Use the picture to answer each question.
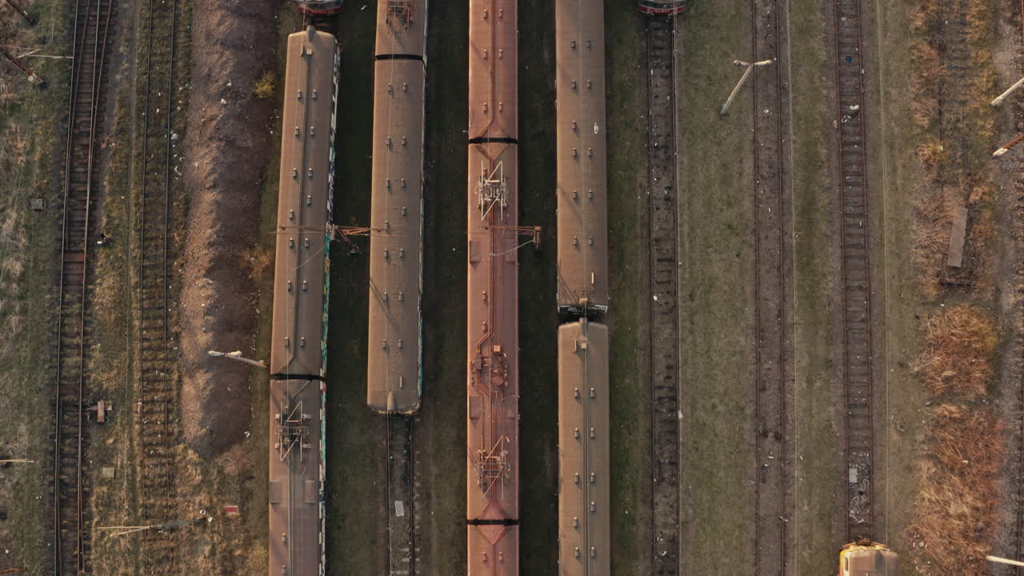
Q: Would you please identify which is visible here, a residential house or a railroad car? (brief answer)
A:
railroad car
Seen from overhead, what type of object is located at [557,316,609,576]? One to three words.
rail car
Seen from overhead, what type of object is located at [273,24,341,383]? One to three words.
rail car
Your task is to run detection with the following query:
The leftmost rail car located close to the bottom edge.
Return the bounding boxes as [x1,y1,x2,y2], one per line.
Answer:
[271,380,327,576]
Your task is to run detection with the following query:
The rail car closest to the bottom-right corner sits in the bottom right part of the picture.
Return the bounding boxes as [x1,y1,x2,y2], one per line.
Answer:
[843,530,904,576]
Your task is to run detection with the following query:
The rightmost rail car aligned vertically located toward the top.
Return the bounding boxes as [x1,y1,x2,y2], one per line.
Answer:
[554,0,607,311]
